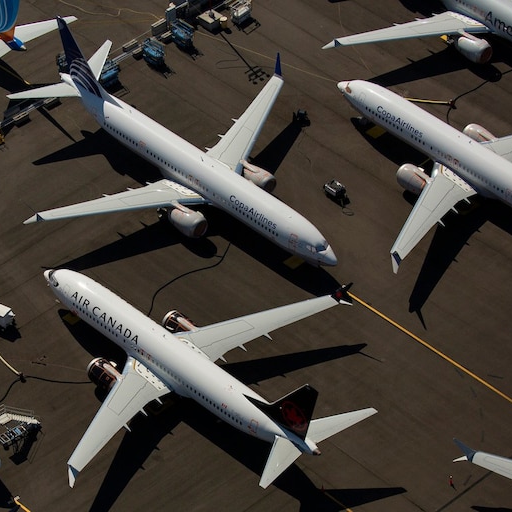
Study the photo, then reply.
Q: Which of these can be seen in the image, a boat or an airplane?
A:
airplane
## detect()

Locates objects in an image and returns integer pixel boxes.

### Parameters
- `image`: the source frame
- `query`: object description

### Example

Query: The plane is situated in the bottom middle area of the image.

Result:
[44,269,377,488]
